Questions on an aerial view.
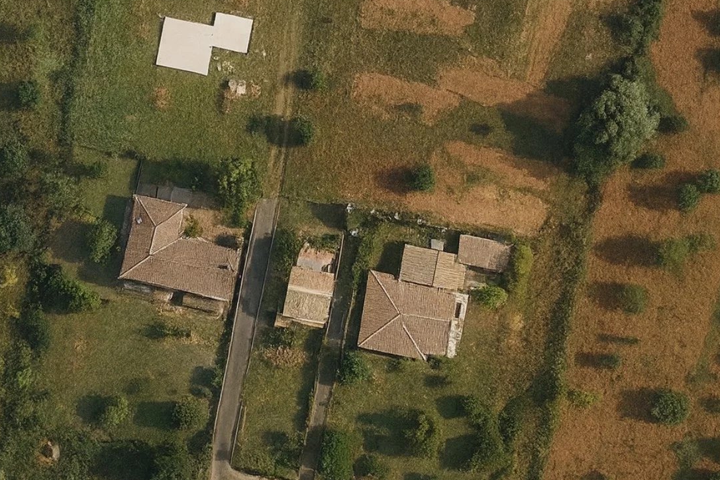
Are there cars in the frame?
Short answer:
No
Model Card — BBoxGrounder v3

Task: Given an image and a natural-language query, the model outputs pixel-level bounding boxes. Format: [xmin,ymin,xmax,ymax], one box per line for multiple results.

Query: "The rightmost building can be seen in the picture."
[458,234,512,271]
